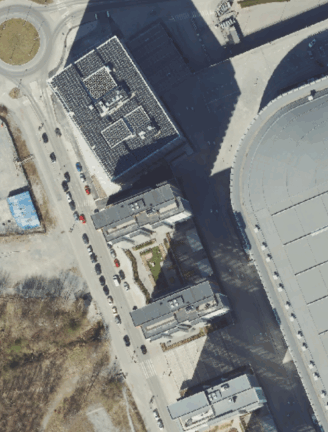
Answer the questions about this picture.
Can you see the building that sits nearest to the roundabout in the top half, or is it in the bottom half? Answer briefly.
top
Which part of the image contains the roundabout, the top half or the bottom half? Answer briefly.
top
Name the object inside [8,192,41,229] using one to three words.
shed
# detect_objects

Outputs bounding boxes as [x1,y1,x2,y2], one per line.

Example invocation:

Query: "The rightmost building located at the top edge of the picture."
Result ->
[127,21,197,109]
